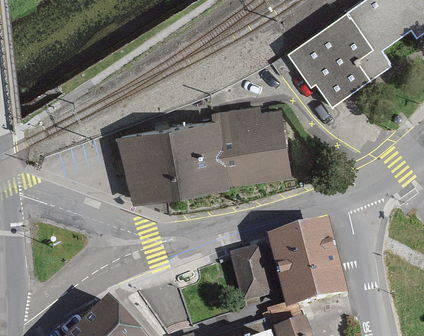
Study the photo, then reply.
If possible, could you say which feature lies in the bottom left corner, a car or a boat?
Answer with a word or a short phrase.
car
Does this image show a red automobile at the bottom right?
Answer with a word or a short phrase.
No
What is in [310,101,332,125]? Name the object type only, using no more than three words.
car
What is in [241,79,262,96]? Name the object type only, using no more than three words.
car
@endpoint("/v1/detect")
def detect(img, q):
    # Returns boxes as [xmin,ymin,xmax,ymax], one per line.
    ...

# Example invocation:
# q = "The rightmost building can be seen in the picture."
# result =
[348,0,424,82]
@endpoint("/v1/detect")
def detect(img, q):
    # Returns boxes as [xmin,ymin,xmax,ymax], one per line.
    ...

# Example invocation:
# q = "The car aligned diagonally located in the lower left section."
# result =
[59,313,82,334]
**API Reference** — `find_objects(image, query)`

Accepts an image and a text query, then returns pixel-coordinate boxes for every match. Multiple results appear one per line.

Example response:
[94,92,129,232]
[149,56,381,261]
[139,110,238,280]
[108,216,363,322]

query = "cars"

[294,76,312,97]
[59,313,82,334]
[241,79,262,96]
[258,66,280,88]
[310,101,332,125]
